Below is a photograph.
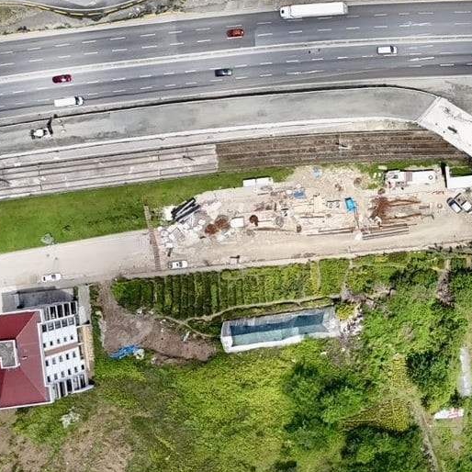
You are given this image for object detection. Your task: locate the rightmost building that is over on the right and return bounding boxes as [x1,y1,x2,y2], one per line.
[446,167,472,189]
